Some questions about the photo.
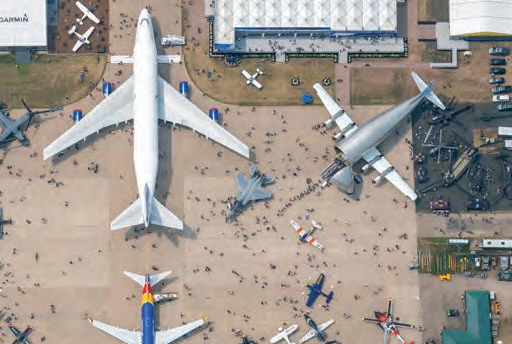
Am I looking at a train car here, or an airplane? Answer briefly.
airplane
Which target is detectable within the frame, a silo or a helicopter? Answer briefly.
helicopter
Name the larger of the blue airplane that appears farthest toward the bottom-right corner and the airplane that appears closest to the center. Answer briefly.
the airplane that appears closest to the center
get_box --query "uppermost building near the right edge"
[442,0,512,40]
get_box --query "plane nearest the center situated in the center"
[228,163,274,219]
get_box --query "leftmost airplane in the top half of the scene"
[0,99,56,148]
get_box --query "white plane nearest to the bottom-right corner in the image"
[299,313,338,344]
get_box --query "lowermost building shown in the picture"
[442,291,493,344]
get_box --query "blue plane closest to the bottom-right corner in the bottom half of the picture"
[306,274,334,307]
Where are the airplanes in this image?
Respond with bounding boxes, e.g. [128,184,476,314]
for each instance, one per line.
[306,274,334,307]
[299,313,338,344]
[292,217,323,252]
[228,163,274,219]
[269,322,299,344]
[90,272,205,344]
[0,206,13,239]
[241,67,263,90]
[317,74,440,198]
[240,337,256,344]
[68,24,94,52]
[10,325,32,344]
[0,99,56,148]
[75,0,101,26]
